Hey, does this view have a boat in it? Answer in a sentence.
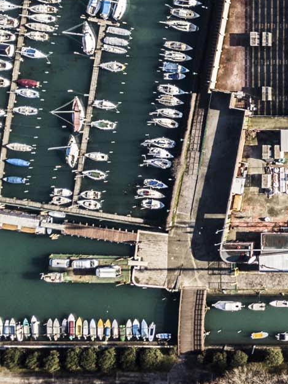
Yes, there is a boat in the image.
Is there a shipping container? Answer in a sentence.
No, this view has no shipping container in it.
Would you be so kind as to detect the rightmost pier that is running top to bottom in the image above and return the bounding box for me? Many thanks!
[73,22,104,205]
